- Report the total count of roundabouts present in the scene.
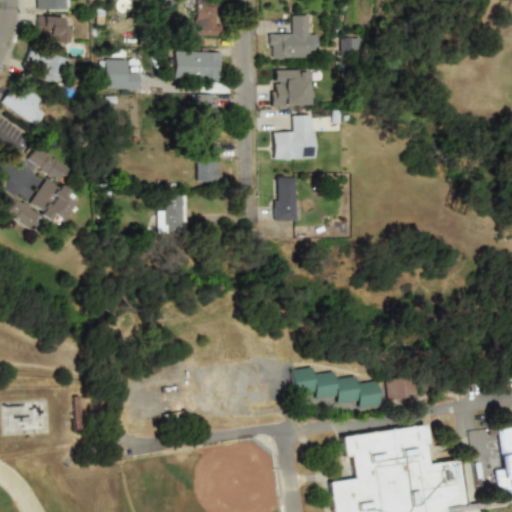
zero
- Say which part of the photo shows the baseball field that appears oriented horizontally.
bottom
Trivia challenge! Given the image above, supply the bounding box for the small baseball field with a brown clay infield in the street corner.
[129,440,280,512]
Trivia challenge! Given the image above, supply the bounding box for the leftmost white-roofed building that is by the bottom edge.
[331,426,469,512]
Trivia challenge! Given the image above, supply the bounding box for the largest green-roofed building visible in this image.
[292,367,384,412]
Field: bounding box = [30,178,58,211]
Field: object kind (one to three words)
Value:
building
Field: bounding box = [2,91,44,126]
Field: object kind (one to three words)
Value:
house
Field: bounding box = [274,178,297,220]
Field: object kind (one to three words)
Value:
house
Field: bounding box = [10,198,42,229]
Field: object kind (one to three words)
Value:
building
